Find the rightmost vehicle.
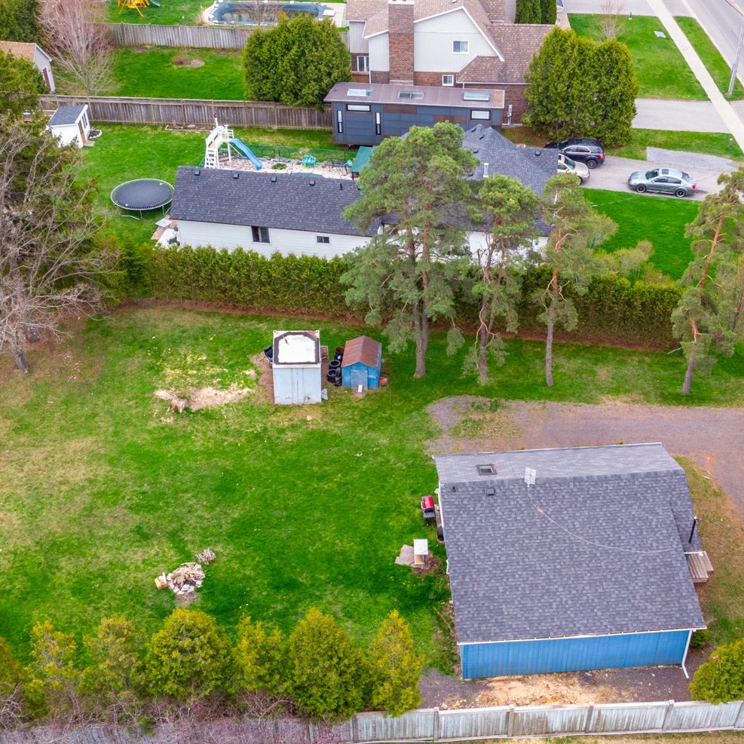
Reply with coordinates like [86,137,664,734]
[623,165,696,197]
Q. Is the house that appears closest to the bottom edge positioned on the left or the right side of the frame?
right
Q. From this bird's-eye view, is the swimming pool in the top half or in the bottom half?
top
